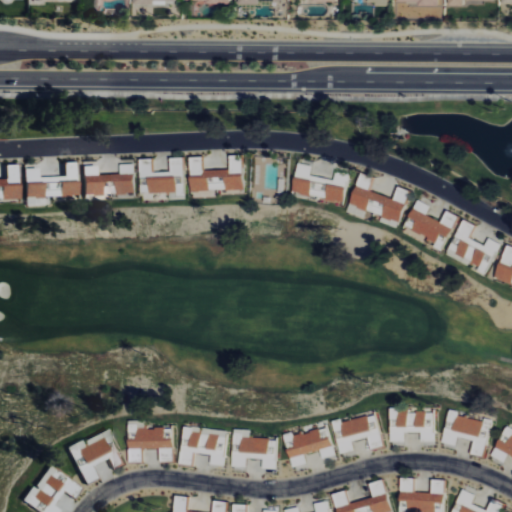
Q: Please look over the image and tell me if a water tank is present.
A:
No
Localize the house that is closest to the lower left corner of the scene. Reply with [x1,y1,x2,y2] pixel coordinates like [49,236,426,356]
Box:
[24,466,85,512]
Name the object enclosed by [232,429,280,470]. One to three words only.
house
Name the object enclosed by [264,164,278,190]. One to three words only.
swimming pool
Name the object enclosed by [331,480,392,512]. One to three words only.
house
